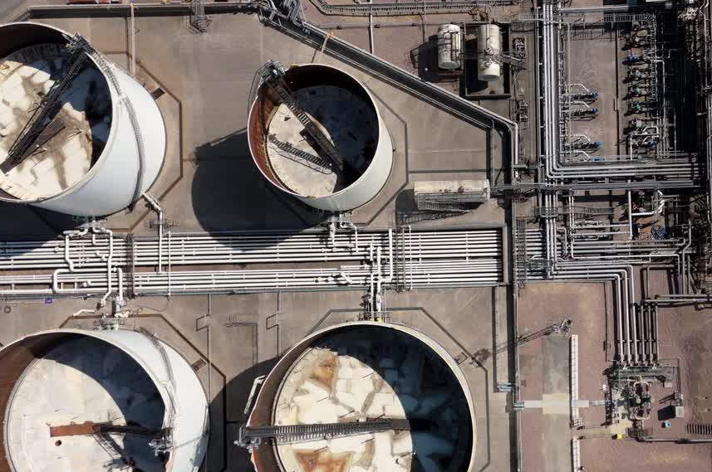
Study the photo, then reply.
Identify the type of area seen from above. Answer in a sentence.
What you see here is an industrial area.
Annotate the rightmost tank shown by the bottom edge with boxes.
[235,320,477,472]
